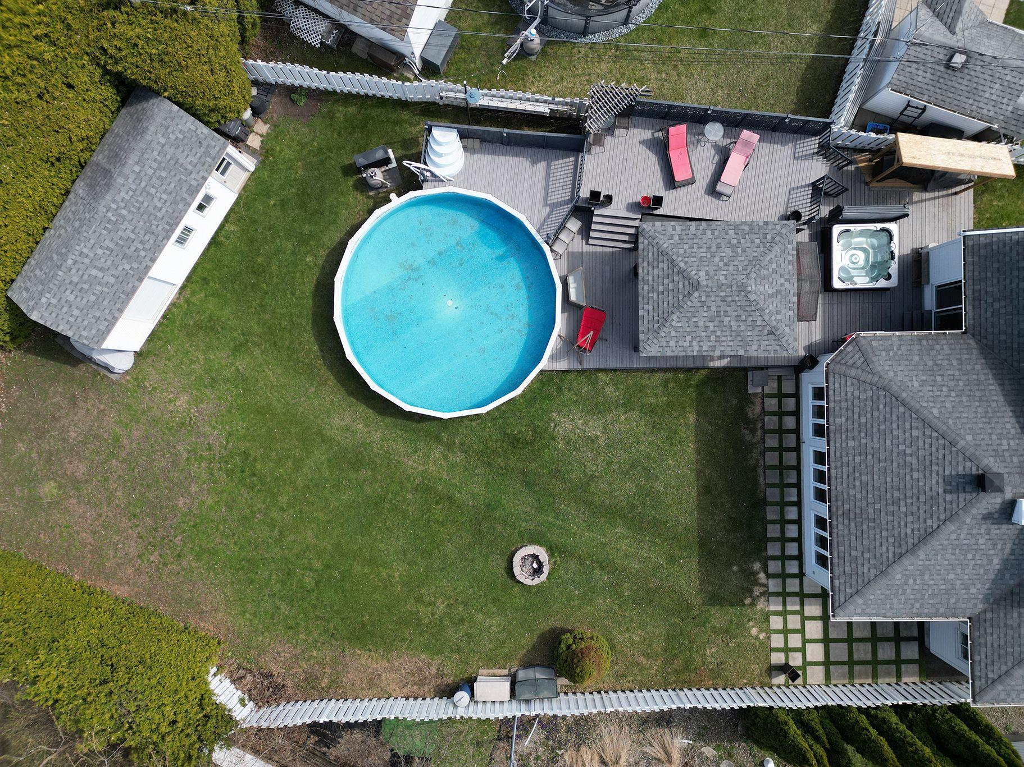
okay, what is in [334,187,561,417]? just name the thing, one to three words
swimming pool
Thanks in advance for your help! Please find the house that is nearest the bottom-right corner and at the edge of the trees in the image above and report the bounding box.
[801,218,1024,706]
